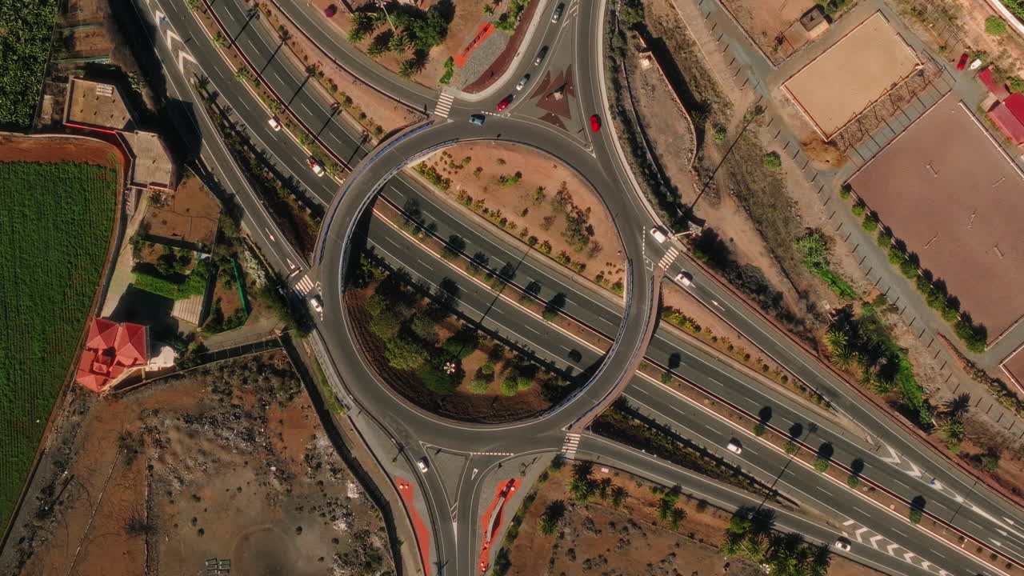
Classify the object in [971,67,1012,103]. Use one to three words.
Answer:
barn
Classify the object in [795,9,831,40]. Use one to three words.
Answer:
shed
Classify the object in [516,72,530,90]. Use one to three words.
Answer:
car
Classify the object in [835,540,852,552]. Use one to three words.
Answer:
vehicle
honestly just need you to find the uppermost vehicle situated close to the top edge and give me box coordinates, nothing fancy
[551,1,565,23]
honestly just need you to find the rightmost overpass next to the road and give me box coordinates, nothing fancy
[563,242,660,430]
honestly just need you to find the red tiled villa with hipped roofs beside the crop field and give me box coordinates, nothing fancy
[76,318,158,395]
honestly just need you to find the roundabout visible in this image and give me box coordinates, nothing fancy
[297,96,680,453]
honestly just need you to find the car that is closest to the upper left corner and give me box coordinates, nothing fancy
[266,116,281,131]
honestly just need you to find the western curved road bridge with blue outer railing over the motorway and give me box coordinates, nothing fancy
[311,119,441,284]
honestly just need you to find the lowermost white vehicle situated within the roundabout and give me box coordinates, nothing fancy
[310,296,323,313]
